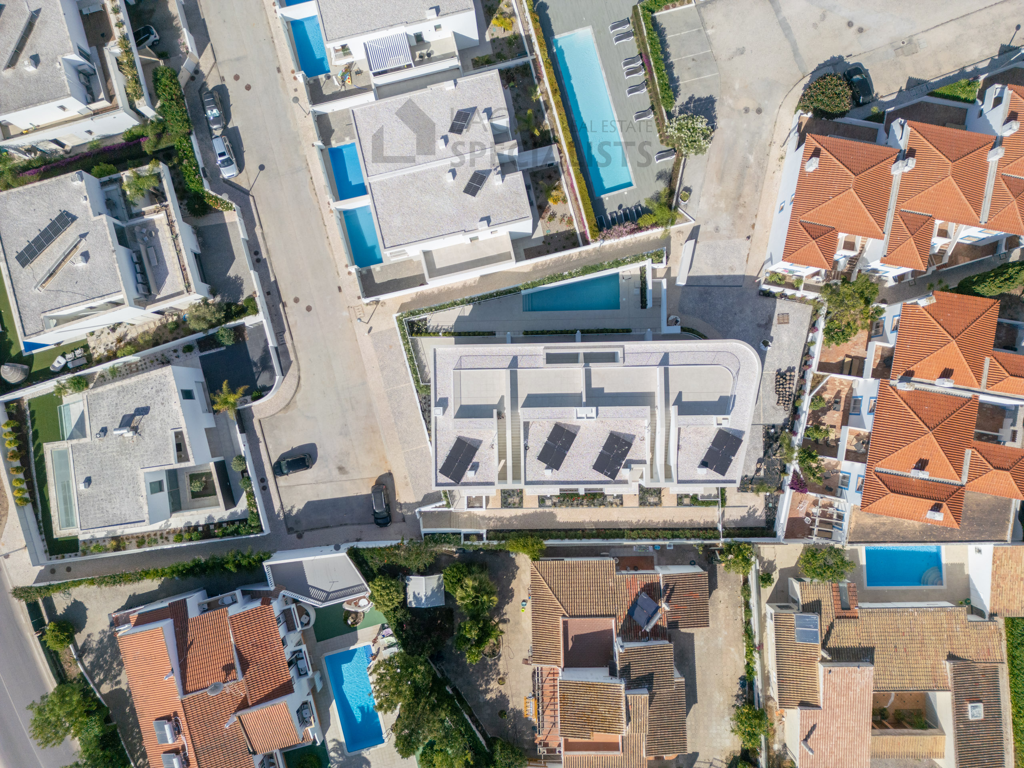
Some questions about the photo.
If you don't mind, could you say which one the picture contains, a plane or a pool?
pool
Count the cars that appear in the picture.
six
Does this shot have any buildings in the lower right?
Yes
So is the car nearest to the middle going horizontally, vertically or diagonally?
vertically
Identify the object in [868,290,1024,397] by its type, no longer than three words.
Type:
house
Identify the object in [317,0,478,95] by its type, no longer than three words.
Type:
house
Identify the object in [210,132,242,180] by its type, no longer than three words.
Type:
car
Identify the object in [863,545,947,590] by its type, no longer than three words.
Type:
swimming pool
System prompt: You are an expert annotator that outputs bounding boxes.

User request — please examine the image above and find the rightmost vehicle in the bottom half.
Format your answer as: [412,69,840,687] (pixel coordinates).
[370,484,393,528]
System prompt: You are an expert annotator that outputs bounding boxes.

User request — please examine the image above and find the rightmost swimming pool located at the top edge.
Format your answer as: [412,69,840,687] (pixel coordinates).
[548,22,638,200]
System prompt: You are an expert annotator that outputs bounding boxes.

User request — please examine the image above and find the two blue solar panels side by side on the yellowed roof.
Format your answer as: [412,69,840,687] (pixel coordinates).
[795,614,819,643]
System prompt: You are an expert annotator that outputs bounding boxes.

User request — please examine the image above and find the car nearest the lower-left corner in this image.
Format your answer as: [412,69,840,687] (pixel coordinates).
[272,453,314,478]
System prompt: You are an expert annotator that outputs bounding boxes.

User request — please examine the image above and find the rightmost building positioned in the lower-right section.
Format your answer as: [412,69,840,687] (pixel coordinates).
[969,539,1024,617]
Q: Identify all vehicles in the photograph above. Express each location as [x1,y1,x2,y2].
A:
[210,132,242,180]
[124,27,163,57]
[200,88,228,132]
[370,484,393,528]
[846,64,876,105]
[272,453,314,478]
